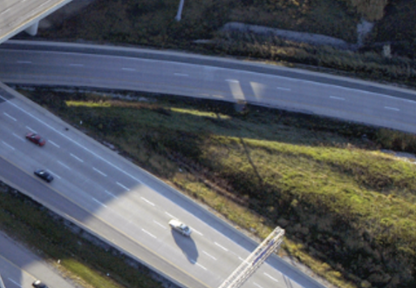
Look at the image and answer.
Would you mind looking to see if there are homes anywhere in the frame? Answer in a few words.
No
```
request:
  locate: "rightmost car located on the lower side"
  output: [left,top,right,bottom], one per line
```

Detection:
[170,220,194,237]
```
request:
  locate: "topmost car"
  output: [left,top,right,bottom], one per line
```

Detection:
[27,132,49,148]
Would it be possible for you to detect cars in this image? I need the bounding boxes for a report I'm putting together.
[30,281,48,288]
[170,220,194,237]
[35,169,57,184]
[27,132,49,148]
